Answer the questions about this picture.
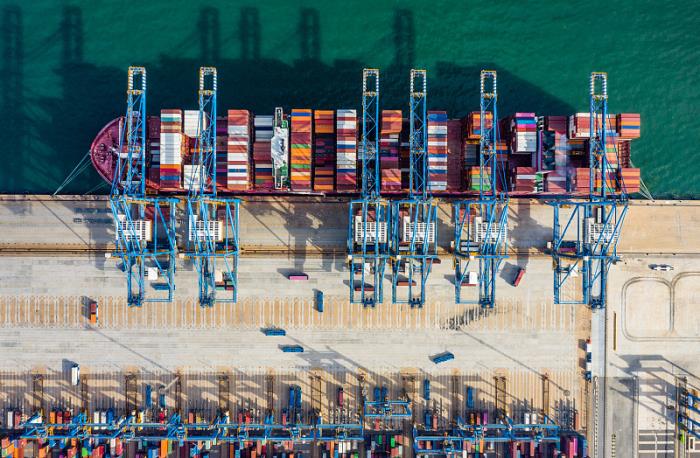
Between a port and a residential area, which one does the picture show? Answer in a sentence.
What you see here is a port.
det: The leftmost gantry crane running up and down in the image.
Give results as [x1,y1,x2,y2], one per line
[107,65,187,308]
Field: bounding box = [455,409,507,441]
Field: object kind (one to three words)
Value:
crane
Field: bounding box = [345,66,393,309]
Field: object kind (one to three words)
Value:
container crane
